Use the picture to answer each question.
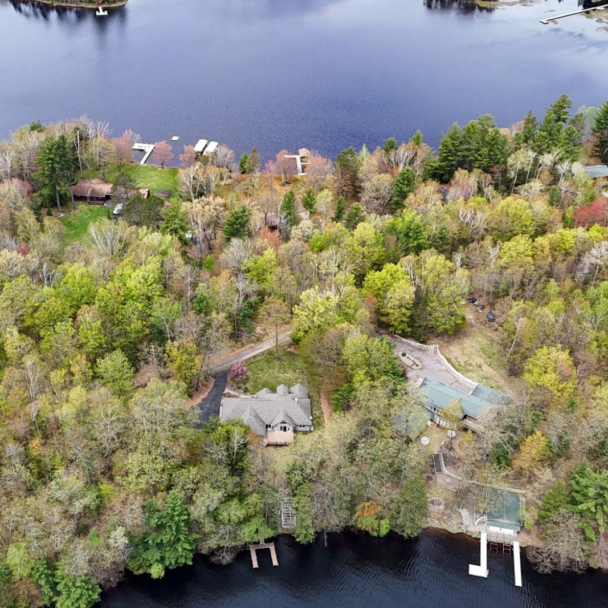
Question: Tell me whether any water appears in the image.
Yes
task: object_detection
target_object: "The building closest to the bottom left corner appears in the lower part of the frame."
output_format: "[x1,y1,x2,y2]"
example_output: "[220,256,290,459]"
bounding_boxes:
[220,381,313,445]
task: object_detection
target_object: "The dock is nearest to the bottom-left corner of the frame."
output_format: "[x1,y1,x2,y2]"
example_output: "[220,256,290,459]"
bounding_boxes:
[249,538,278,569]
